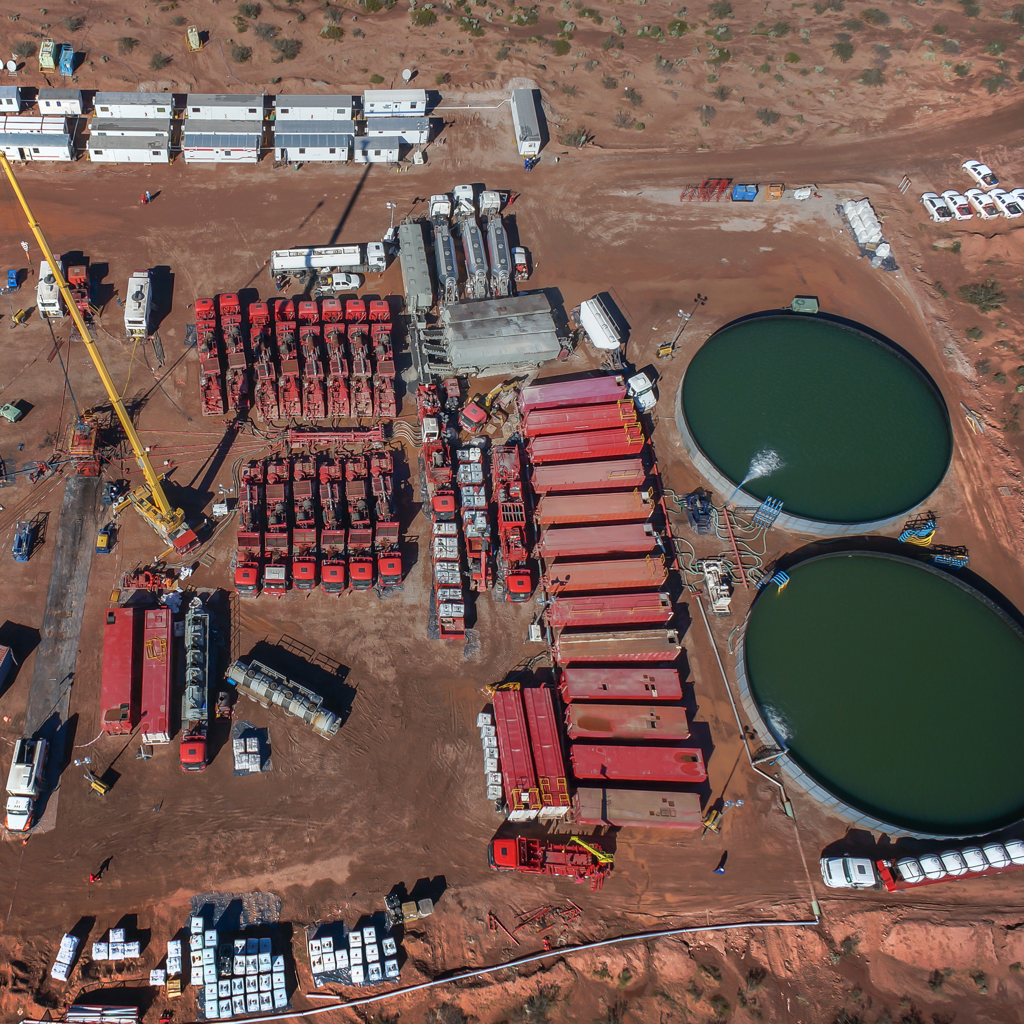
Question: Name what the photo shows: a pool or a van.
van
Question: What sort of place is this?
industrial area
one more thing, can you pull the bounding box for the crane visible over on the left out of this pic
[0,145,210,566]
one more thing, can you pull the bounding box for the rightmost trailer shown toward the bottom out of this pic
[879,841,1024,890]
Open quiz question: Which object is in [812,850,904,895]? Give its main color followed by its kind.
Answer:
white truck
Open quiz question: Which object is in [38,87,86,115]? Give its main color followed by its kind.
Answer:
white trailer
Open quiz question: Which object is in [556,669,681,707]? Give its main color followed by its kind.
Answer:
red storage tank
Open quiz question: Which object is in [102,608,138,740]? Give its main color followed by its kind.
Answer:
red storage tank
